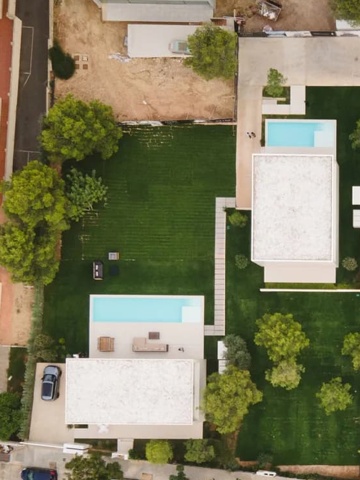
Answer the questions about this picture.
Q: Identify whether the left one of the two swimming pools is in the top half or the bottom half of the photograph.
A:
bottom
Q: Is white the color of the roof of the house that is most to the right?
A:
Yes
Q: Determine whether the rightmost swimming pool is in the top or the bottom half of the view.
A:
top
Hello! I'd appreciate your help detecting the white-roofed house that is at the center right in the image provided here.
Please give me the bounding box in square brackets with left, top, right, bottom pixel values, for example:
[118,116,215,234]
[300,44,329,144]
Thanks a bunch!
[252,155,341,267]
